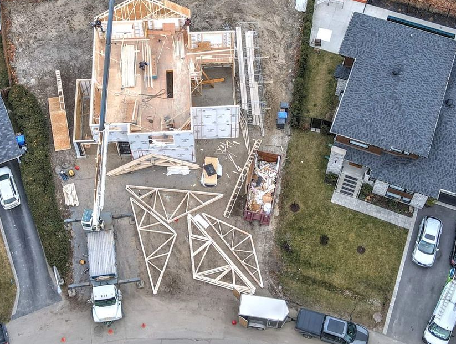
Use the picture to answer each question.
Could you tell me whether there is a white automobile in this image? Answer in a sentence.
Yes, this view includes a white automobile.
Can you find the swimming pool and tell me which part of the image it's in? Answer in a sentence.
The swimming pool is in the top right part of the image.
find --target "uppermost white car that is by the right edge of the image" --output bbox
[410,213,442,271]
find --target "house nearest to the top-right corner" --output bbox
[325,11,456,211]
